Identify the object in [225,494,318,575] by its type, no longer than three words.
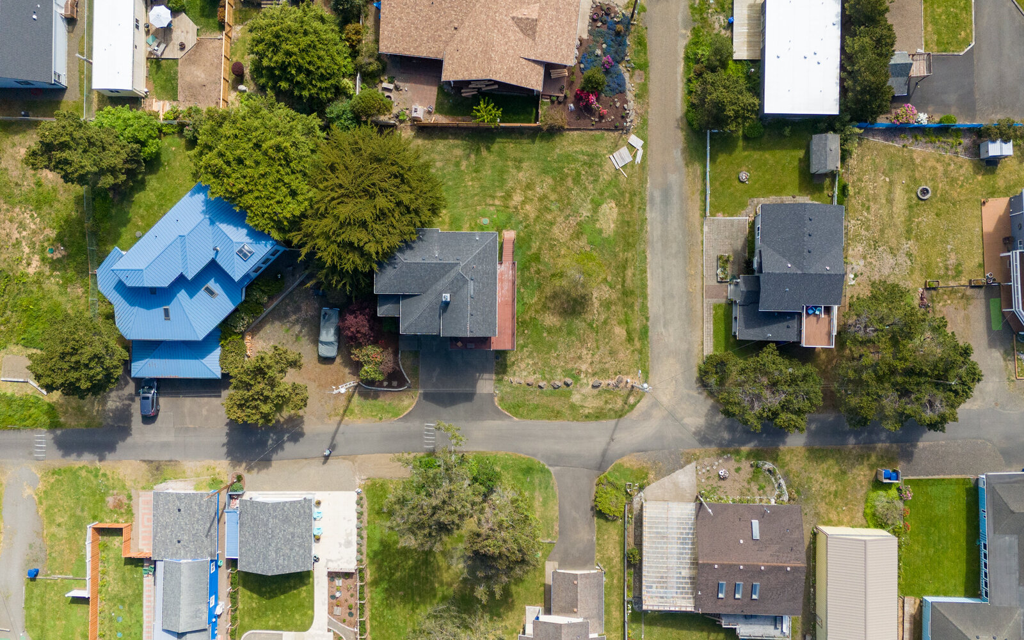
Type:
building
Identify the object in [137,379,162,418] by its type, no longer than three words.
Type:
car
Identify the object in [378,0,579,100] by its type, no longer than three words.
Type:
house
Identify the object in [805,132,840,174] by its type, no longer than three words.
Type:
shed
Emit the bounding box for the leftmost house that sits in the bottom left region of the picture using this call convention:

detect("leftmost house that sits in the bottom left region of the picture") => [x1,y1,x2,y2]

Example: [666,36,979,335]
[152,490,222,640]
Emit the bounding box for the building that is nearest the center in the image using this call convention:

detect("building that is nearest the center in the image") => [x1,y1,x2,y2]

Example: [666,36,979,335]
[374,228,516,351]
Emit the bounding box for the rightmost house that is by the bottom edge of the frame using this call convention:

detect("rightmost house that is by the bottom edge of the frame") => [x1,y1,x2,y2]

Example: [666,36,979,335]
[922,471,1024,640]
